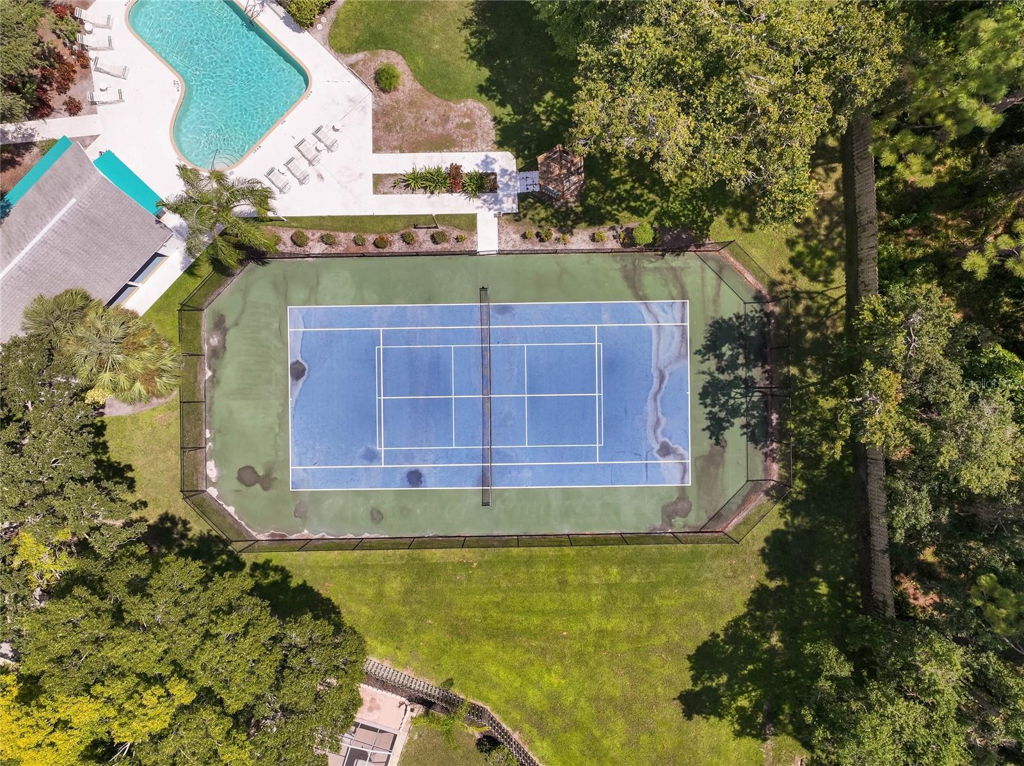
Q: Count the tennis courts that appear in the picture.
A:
1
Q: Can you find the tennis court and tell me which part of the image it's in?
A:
center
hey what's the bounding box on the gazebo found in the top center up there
[536,145,585,205]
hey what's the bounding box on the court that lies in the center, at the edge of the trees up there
[205,251,771,540]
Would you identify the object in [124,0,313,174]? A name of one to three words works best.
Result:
swimming pool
